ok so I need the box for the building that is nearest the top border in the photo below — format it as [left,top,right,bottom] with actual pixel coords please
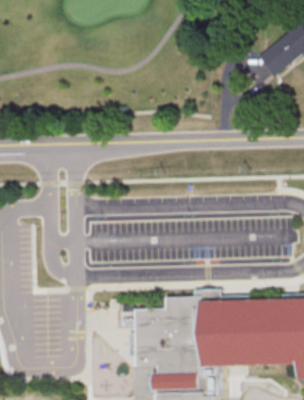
[261,26,304,74]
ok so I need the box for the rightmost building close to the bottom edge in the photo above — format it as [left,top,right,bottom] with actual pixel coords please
[134,287,304,400]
